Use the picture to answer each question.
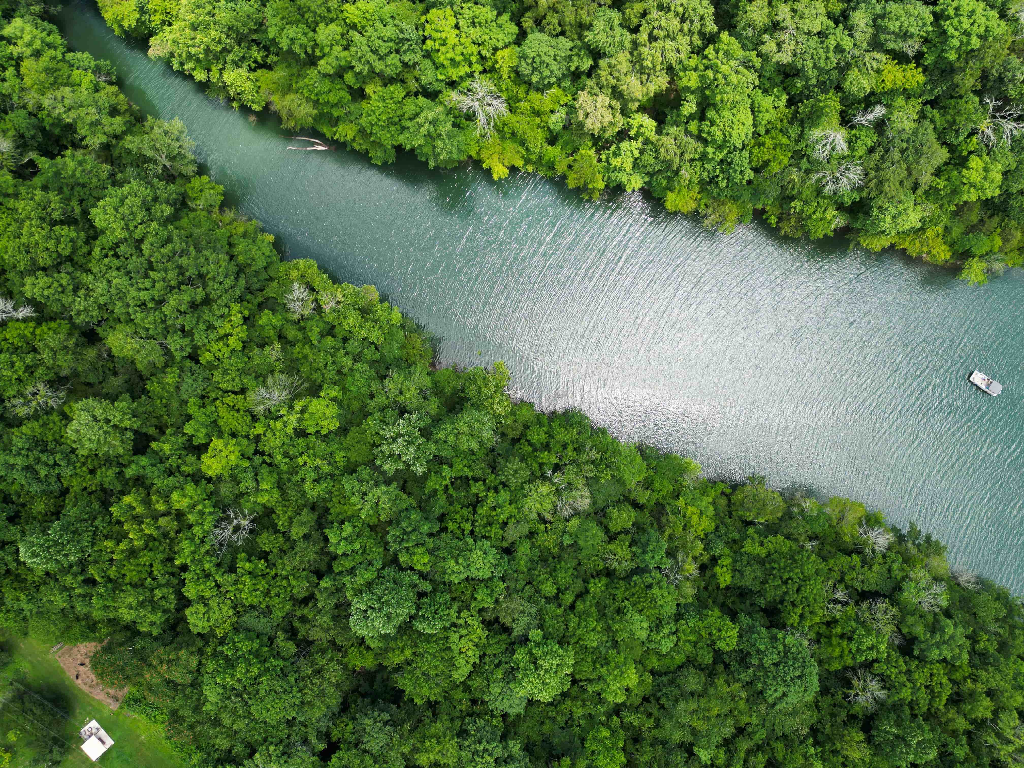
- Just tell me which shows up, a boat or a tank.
boat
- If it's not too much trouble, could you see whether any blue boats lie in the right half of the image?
No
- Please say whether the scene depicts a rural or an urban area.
rural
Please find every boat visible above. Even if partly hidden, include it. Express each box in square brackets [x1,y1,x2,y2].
[968,370,1004,396]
